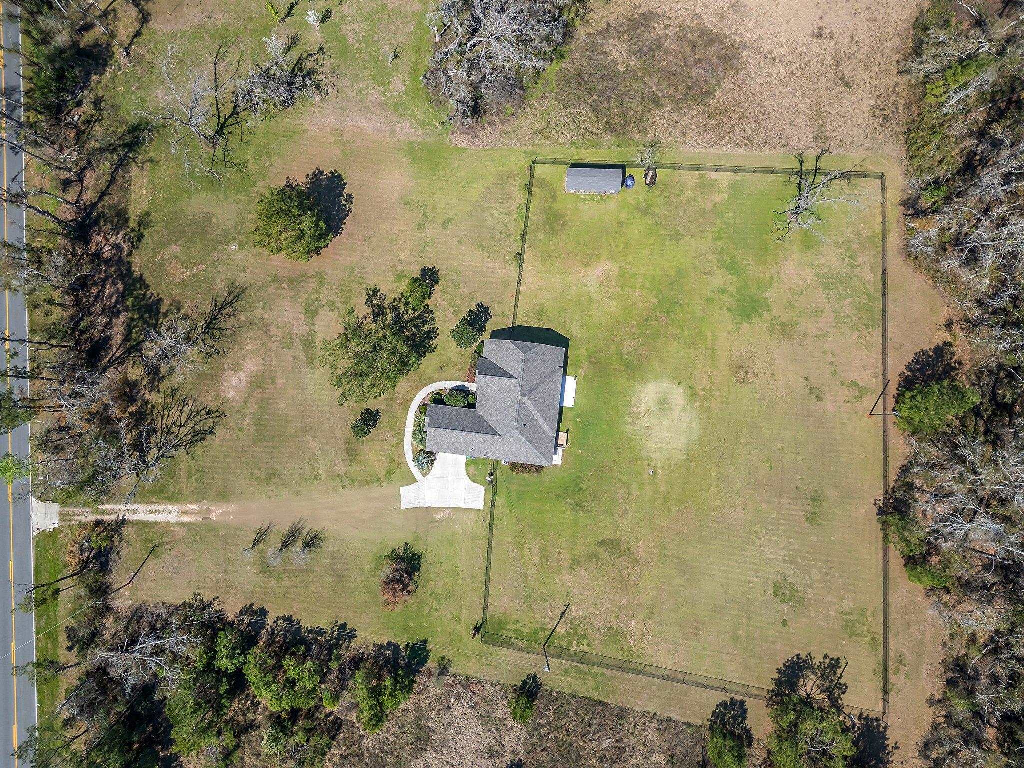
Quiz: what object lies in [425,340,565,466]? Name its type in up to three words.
house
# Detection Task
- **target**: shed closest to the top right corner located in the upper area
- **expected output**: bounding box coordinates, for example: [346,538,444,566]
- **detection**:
[567,167,623,198]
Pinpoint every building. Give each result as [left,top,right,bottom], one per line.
[425,340,565,466]
[567,167,623,198]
